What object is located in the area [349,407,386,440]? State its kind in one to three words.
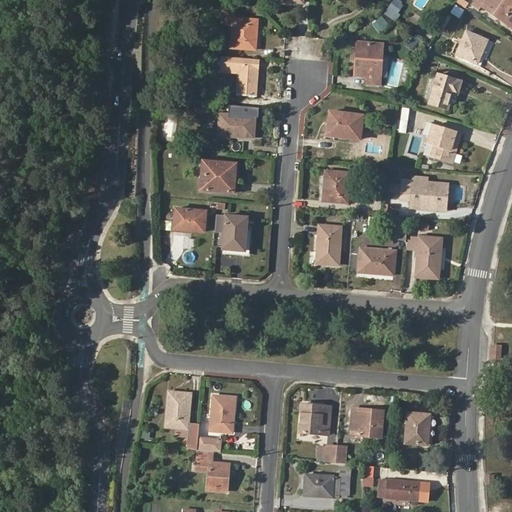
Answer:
house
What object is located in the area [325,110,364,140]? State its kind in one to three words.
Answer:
house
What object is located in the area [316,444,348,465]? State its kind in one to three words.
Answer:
building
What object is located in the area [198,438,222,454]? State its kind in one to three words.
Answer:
building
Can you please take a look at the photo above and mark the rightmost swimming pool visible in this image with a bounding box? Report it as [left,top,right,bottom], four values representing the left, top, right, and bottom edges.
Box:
[448,186,463,206]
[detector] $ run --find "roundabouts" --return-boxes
[60,287,113,345]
